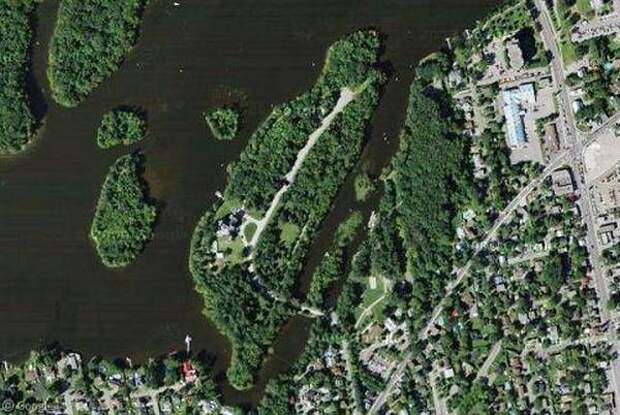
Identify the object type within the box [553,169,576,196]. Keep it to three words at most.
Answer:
building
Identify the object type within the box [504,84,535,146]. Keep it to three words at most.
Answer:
building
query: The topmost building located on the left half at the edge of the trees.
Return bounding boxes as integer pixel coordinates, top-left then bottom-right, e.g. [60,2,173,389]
[215,207,243,238]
